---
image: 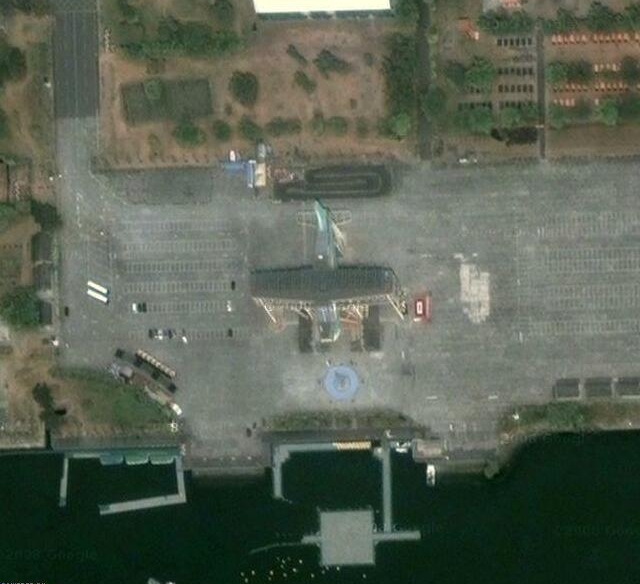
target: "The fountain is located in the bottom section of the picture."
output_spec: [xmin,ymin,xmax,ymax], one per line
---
[322,364,359,400]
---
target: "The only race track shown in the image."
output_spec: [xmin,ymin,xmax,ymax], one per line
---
[274,164,392,198]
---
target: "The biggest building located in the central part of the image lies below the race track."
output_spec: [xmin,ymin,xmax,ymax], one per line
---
[251,202,406,352]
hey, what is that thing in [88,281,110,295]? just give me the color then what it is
white vehicle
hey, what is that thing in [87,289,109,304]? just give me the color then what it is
white vehicle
